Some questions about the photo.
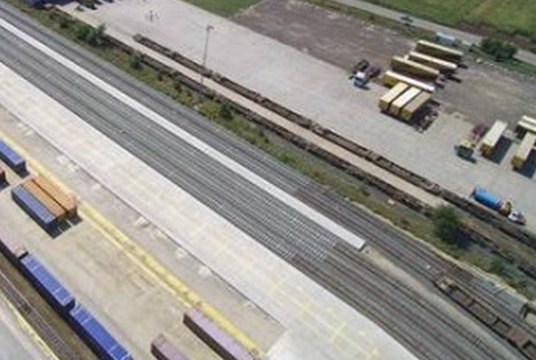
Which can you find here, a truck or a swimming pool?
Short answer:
truck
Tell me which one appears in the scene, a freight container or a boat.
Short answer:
freight container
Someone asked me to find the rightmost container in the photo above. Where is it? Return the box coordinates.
[184,308,253,360]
